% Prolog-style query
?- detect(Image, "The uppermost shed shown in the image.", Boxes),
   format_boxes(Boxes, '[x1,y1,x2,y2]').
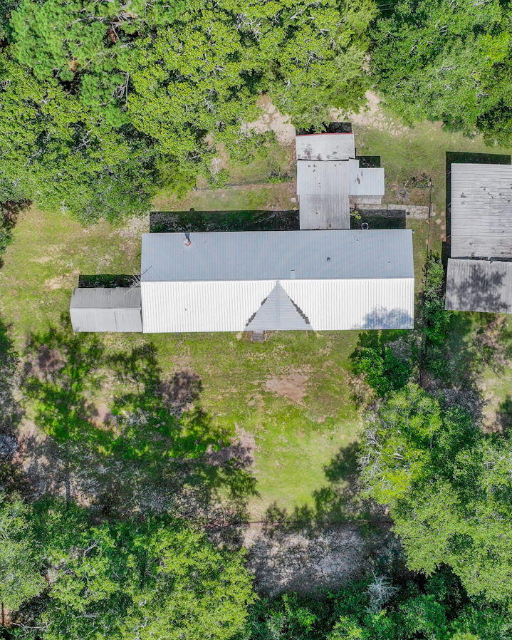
[297,132,356,160]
